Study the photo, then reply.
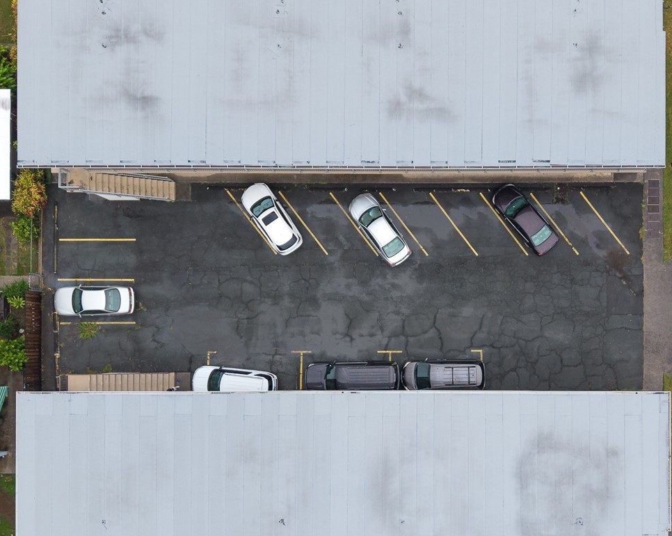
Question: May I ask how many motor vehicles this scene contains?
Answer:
7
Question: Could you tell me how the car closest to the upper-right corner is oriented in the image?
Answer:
diagonally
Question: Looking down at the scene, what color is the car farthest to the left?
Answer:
white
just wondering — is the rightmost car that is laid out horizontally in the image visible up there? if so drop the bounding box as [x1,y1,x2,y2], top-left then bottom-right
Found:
[401,359,486,391]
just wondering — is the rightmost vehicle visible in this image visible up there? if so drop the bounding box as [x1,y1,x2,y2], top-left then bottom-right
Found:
[493,184,559,257]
